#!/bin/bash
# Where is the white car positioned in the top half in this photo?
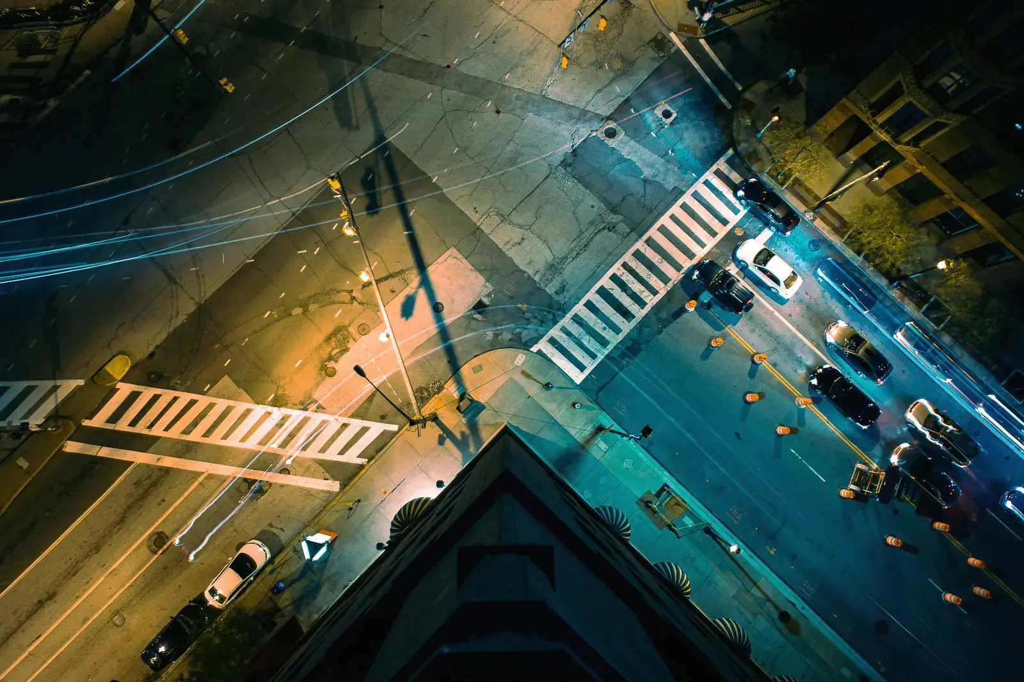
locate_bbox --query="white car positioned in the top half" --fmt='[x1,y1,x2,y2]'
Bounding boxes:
[731,240,802,302]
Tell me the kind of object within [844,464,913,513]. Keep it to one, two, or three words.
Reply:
trailer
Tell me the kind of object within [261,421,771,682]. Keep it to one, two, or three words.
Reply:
building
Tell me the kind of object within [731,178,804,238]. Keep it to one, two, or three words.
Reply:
car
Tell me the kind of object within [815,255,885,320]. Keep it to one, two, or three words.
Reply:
car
